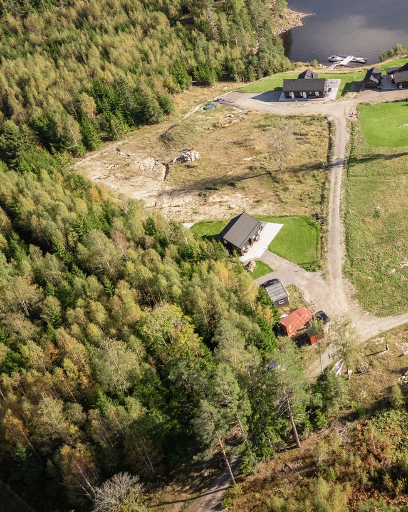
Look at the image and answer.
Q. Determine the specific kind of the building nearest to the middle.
residential house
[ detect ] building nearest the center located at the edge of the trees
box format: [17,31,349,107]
[207,211,283,263]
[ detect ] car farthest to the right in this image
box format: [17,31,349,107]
[315,306,328,324]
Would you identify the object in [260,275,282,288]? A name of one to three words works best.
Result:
vehicle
